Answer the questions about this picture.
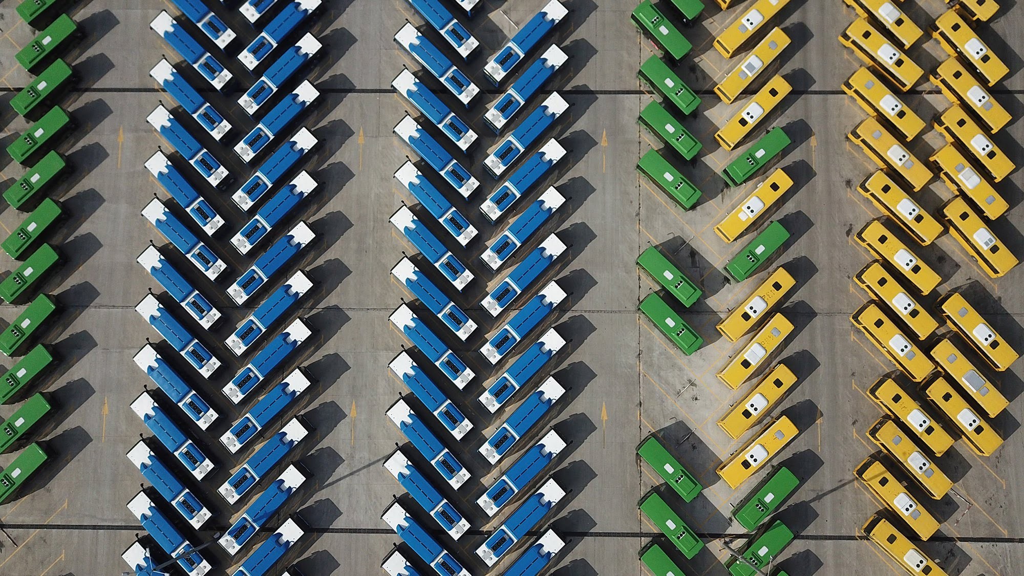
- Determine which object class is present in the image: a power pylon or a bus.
bus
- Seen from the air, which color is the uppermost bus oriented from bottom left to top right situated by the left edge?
green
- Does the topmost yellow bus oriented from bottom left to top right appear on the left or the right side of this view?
right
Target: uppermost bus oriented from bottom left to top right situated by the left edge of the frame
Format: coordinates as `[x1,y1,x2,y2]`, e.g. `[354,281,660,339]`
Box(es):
[16,13,87,77]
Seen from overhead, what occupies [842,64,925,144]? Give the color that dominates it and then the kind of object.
yellow bus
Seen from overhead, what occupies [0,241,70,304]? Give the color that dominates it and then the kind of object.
green bus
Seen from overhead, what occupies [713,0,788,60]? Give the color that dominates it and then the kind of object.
yellow bus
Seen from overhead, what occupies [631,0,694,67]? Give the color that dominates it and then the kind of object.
green bus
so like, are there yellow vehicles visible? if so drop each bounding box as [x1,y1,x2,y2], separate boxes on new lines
[923,334,1009,416]
[713,167,795,244]
[935,193,1019,277]
[868,373,954,455]
[855,217,941,296]
[859,167,943,246]
[713,0,788,60]
[716,360,800,438]
[933,288,1019,370]
[843,0,923,53]
[714,74,794,152]
[933,101,1015,185]
[850,113,933,194]
[917,372,1004,455]
[840,15,924,93]
[842,64,925,144]
[851,299,935,380]
[929,54,1012,136]
[868,414,954,498]
[855,455,940,539]
[925,144,1009,225]
[715,310,796,389]
[862,512,943,576]
[947,0,999,28]
[713,26,793,106]
[855,258,938,339]
[715,265,798,342]
[715,411,801,487]
[928,7,1009,89]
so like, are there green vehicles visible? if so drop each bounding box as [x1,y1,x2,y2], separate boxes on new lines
[635,432,701,501]
[0,440,59,504]
[16,13,87,77]
[637,486,703,558]
[723,219,794,283]
[631,0,694,67]
[725,516,797,576]
[635,242,701,308]
[17,0,74,30]
[637,97,701,165]
[658,0,703,28]
[2,196,73,261]
[0,291,66,356]
[635,145,700,212]
[638,537,688,576]
[731,464,803,530]
[0,390,62,454]
[0,241,70,304]
[8,104,80,168]
[637,288,702,355]
[637,52,700,121]
[722,126,794,187]
[4,149,76,212]
[11,58,82,121]
[0,341,64,404]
